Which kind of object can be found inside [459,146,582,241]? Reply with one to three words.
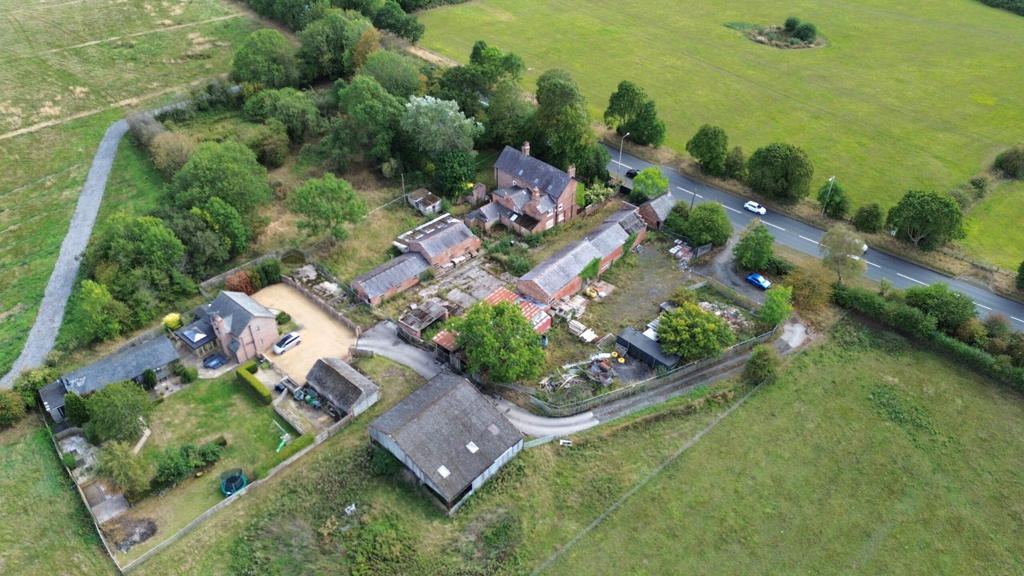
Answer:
house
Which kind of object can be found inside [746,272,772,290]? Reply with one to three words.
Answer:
car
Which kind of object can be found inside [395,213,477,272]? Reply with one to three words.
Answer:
shed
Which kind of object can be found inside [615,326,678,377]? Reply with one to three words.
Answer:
shipping container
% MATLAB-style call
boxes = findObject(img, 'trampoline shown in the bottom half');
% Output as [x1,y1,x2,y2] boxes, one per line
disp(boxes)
[216,468,247,497]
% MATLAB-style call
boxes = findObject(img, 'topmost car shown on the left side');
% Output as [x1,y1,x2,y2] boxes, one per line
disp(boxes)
[272,333,302,355]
